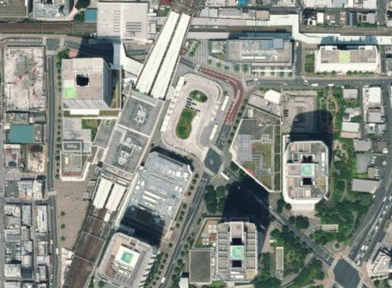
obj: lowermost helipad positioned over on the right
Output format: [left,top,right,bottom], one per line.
[231,246,244,259]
